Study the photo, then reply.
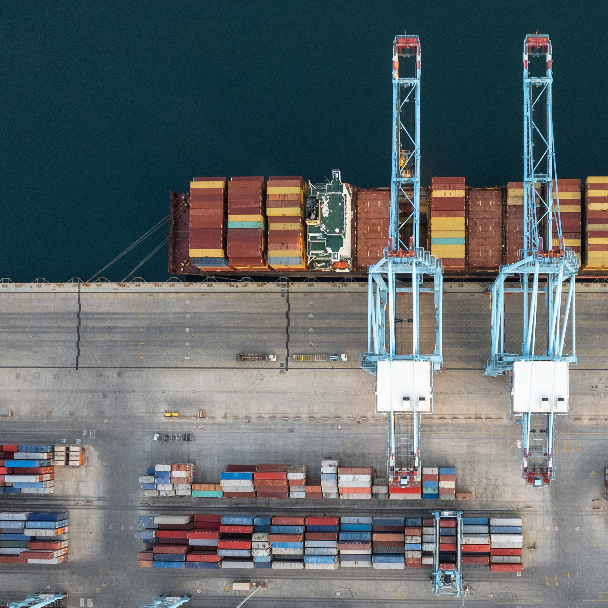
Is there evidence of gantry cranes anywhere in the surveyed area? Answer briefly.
Yes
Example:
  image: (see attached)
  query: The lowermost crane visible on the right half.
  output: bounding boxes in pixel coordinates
[422,512,464,595]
